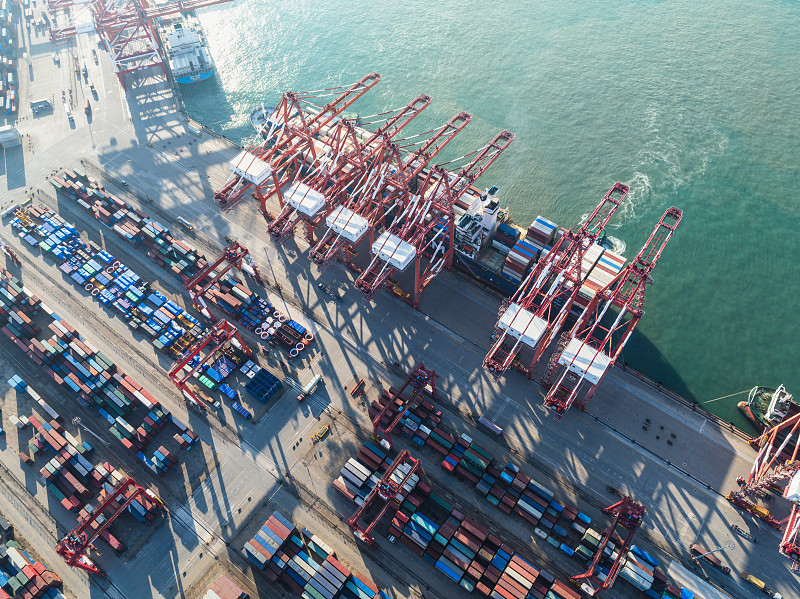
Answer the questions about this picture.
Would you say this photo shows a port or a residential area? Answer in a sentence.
What you see here is a port.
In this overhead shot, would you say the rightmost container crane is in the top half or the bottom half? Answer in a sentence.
The bottom half of the photo is where the rightmost container crane is.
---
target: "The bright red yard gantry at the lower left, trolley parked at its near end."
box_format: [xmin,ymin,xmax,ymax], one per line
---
[56,477,170,579]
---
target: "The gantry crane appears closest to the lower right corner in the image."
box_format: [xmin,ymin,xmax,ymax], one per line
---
[717,412,800,569]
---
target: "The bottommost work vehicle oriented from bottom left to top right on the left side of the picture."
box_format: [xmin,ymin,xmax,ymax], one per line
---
[312,425,328,444]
